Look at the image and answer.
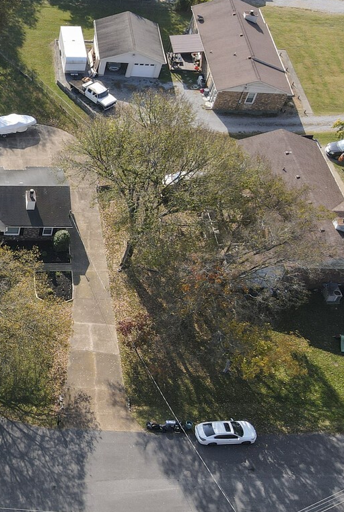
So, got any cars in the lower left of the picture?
No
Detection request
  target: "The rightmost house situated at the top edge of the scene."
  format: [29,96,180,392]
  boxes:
[189,0,295,112]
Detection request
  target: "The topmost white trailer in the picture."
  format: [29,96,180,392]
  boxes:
[57,26,87,75]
